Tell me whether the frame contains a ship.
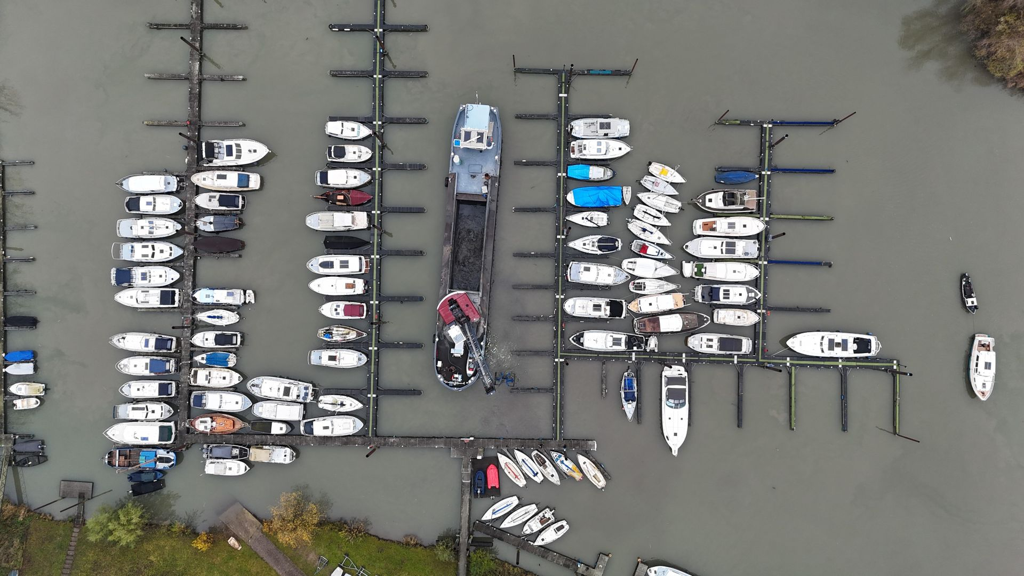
Yes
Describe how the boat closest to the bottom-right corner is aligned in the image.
from top to bottom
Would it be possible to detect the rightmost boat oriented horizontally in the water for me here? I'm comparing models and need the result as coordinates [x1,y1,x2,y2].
[786,330,886,360]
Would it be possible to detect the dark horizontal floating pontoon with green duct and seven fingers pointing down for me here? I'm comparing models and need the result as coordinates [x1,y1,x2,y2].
[561,349,907,436]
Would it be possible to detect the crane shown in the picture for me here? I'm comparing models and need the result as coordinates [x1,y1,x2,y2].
[435,290,499,395]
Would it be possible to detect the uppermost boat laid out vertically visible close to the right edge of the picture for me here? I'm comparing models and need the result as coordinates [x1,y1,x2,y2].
[958,270,979,314]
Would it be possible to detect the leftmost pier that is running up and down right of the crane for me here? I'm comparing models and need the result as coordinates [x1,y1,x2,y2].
[510,61,631,438]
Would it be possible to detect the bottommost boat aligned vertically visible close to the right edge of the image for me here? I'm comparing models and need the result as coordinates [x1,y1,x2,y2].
[966,332,999,402]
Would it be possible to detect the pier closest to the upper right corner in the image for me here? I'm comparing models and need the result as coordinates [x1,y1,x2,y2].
[711,113,836,353]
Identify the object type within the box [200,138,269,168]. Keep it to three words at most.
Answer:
boat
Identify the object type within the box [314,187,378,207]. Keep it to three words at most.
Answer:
vessel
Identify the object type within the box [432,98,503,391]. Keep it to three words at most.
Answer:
ship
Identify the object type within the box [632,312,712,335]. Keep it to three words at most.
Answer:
boat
